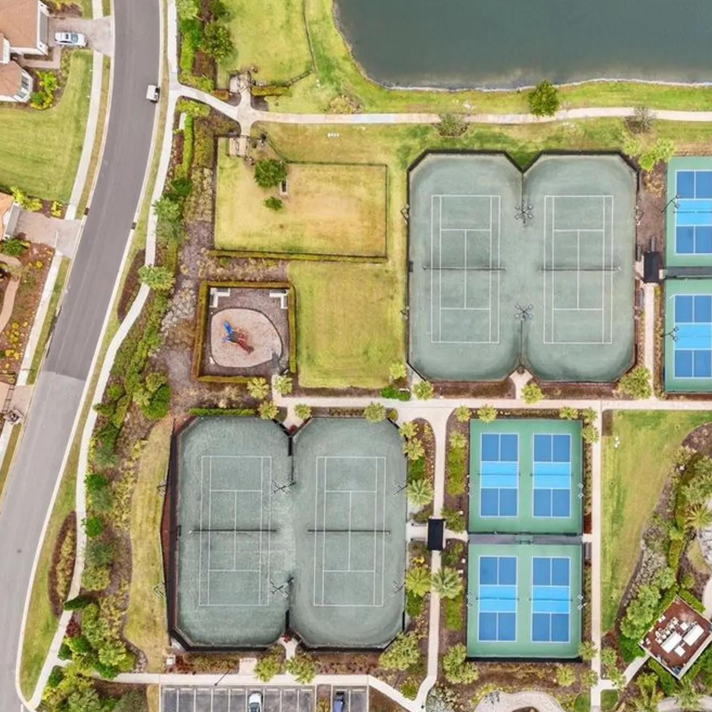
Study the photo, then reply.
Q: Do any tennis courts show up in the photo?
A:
Yes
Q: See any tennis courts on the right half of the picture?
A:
Yes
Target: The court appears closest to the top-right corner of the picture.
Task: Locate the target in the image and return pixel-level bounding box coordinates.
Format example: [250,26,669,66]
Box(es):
[665,157,712,267]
